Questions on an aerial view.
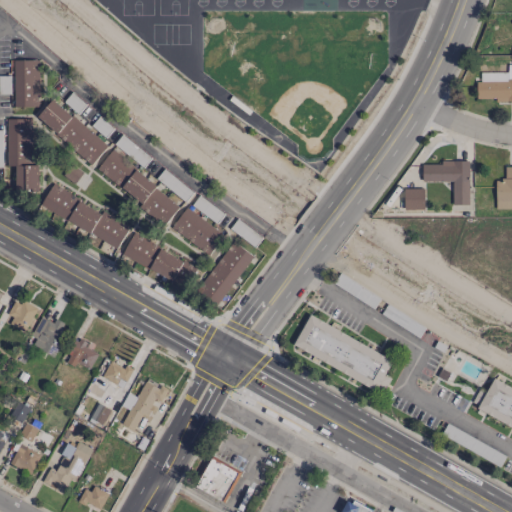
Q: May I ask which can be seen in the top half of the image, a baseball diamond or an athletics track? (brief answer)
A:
baseball diamond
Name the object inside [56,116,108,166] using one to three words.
building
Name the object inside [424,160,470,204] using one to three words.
house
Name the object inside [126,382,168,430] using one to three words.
house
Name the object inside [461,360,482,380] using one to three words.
swimming pool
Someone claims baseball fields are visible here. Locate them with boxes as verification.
[203,12,389,162]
